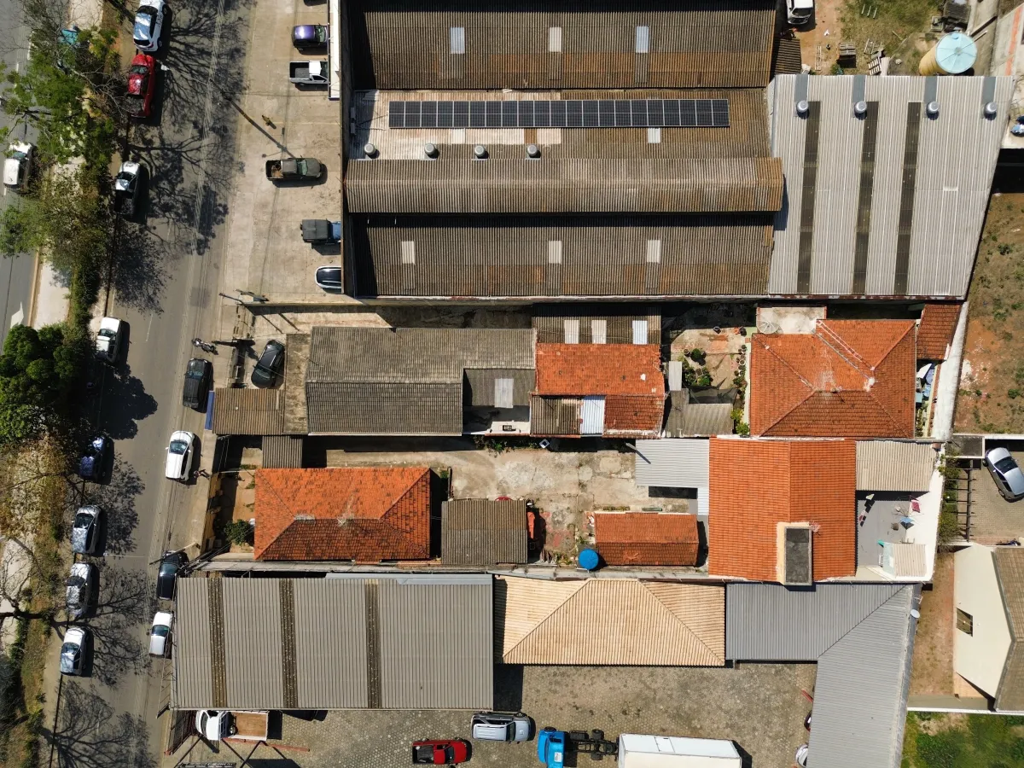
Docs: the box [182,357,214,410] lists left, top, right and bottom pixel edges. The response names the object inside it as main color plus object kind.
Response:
black car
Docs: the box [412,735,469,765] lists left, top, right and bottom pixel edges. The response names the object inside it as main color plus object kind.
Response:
red truck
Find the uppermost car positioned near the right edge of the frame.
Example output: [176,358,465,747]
[980,446,1024,503]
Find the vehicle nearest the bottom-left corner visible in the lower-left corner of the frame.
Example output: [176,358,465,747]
[60,624,92,677]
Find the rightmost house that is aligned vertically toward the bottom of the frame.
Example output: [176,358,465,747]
[954,545,1024,700]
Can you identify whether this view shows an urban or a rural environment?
urban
